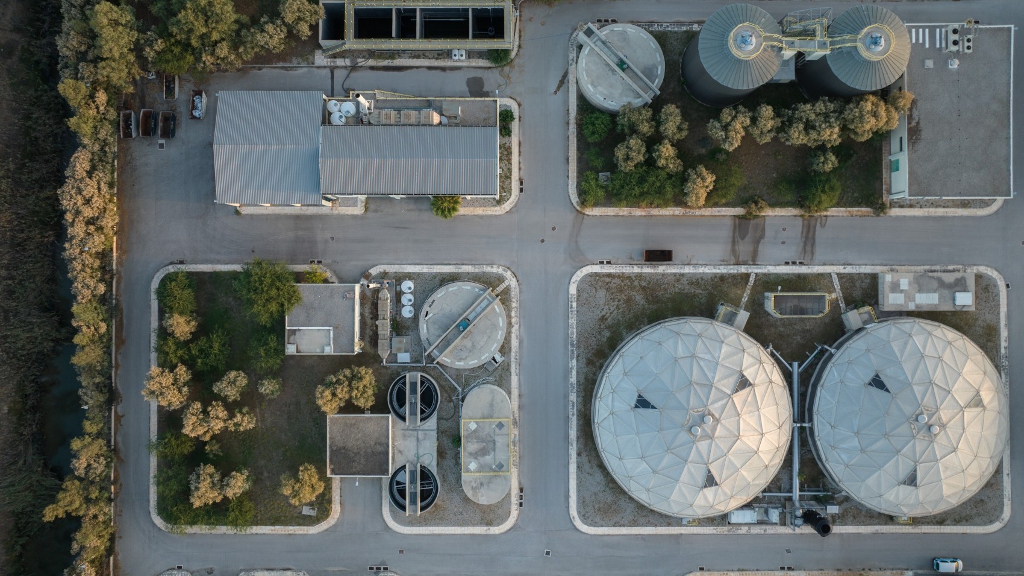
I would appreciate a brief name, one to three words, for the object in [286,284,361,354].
building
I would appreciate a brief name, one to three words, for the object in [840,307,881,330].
shed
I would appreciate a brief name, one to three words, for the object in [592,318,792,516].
storage tank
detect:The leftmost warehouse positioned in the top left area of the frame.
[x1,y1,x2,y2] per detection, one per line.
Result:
[212,90,332,207]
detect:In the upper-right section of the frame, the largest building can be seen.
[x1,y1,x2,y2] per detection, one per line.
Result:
[890,24,1018,202]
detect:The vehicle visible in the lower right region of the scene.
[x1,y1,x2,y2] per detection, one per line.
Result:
[930,556,961,573]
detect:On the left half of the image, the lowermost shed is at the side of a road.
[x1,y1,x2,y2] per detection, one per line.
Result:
[327,410,393,477]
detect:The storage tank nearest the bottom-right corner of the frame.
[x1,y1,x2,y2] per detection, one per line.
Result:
[803,316,1009,515]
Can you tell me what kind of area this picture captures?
industrial area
